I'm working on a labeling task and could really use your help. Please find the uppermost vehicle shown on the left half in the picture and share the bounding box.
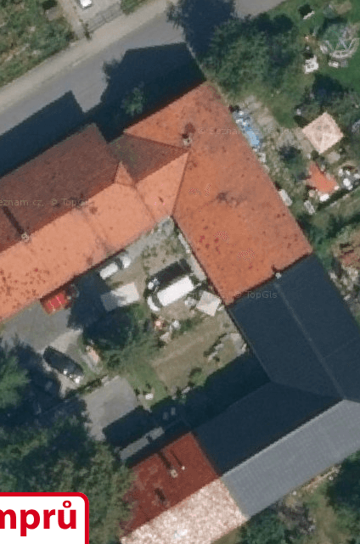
[97,251,135,282]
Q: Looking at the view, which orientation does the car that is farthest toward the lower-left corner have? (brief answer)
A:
at an angle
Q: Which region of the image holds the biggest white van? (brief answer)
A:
center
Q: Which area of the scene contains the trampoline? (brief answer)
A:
top right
